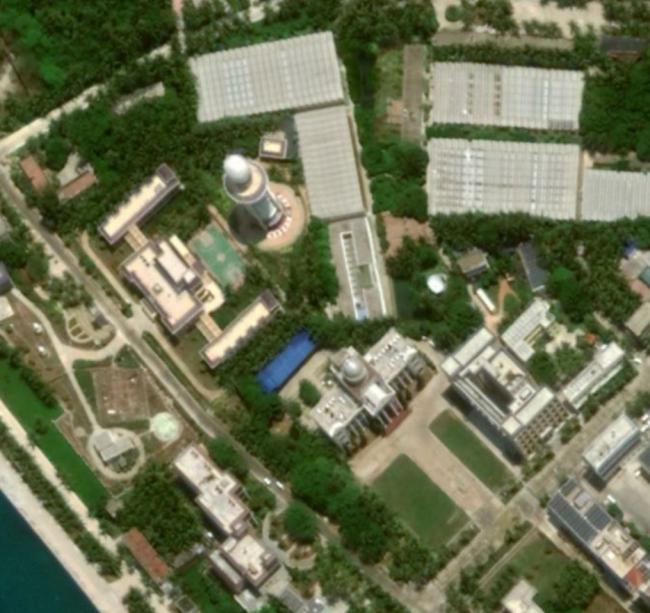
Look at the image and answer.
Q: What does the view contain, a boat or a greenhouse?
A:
greenhouse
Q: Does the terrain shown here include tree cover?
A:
Yes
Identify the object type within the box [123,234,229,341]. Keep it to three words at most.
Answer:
building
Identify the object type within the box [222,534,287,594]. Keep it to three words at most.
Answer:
building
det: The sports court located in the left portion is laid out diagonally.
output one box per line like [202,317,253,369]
[189,223,246,289]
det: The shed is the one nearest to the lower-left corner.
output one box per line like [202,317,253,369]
[124,529,170,583]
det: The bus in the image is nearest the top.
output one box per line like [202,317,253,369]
[475,286,495,312]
